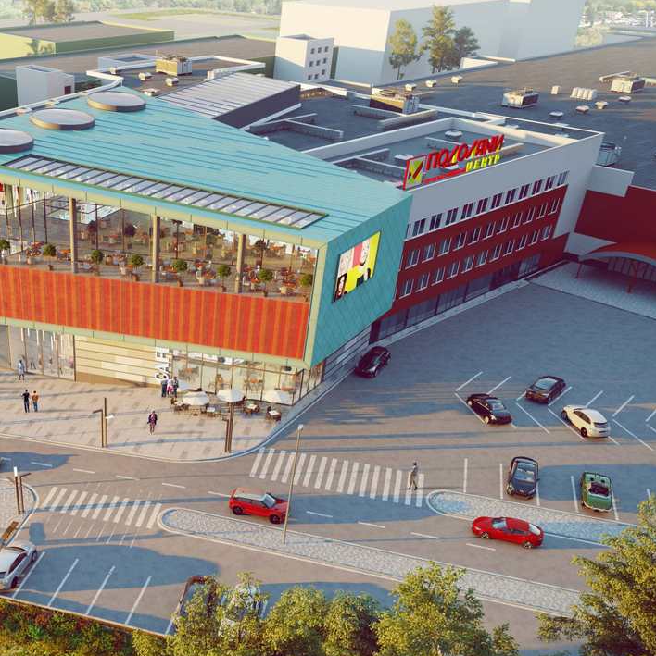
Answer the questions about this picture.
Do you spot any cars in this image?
Yes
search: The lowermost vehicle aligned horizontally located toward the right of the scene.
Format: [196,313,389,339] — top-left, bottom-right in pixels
[474,512,546,545]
